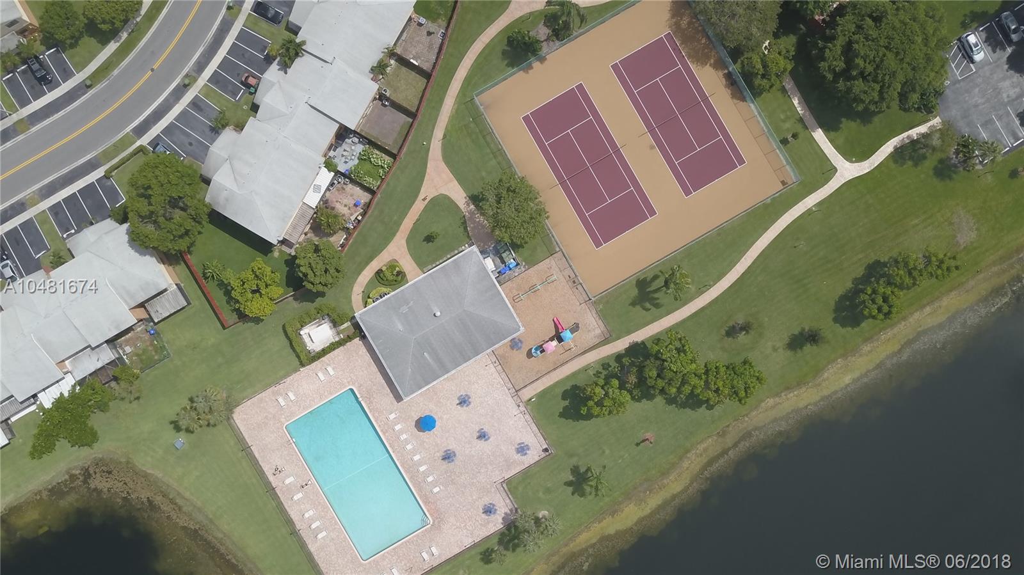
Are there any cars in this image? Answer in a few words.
Yes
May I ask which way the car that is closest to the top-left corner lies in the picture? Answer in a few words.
diagonally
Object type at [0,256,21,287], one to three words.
car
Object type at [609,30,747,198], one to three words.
tennis court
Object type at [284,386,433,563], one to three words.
swimming pool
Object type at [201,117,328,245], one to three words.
house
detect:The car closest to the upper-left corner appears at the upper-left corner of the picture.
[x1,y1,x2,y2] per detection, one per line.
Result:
[25,55,53,86]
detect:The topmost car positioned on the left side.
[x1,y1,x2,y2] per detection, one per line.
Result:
[250,0,283,24]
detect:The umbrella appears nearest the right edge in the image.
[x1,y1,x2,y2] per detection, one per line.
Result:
[419,414,437,431]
